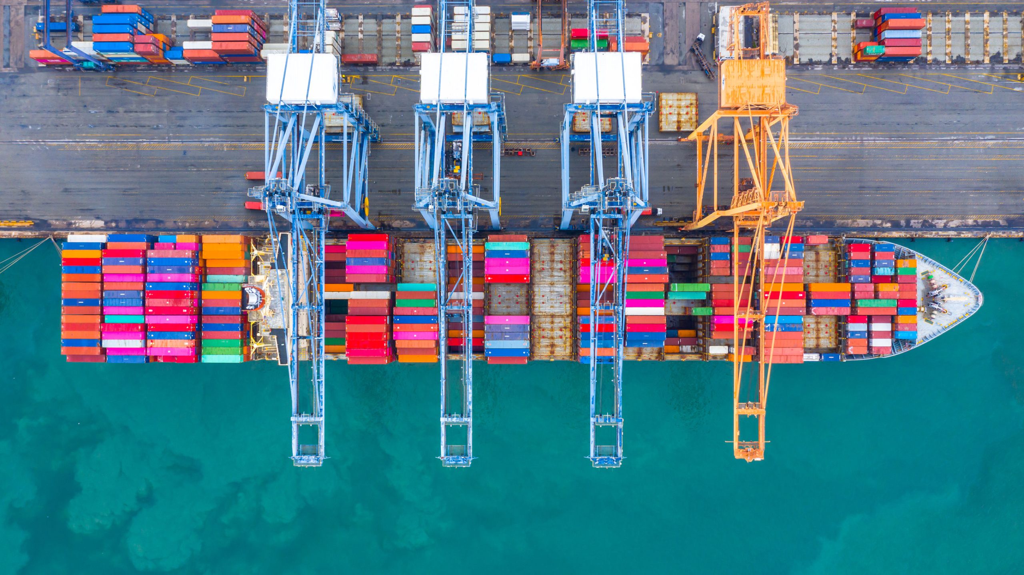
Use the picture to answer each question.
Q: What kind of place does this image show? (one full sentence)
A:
The picture captures a port.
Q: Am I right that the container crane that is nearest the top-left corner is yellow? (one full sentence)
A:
No, the container crane that is nearest the top-left corner is actually blue.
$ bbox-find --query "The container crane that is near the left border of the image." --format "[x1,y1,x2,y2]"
[40,0,110,69]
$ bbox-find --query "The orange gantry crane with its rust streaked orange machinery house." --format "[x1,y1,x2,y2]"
[673,0,806,467]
